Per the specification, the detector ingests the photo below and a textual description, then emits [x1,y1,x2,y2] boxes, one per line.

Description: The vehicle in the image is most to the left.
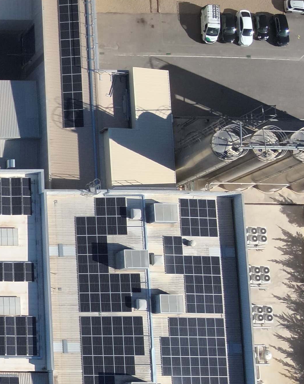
[199,3,223,45]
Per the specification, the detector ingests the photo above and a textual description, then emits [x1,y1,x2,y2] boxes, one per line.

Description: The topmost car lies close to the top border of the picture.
[285,0,304,15]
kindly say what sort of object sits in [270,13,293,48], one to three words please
car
